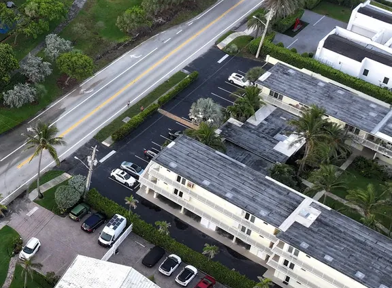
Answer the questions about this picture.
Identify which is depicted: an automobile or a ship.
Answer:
automobile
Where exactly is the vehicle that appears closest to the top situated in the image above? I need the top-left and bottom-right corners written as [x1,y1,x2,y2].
[225,71,252,88]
